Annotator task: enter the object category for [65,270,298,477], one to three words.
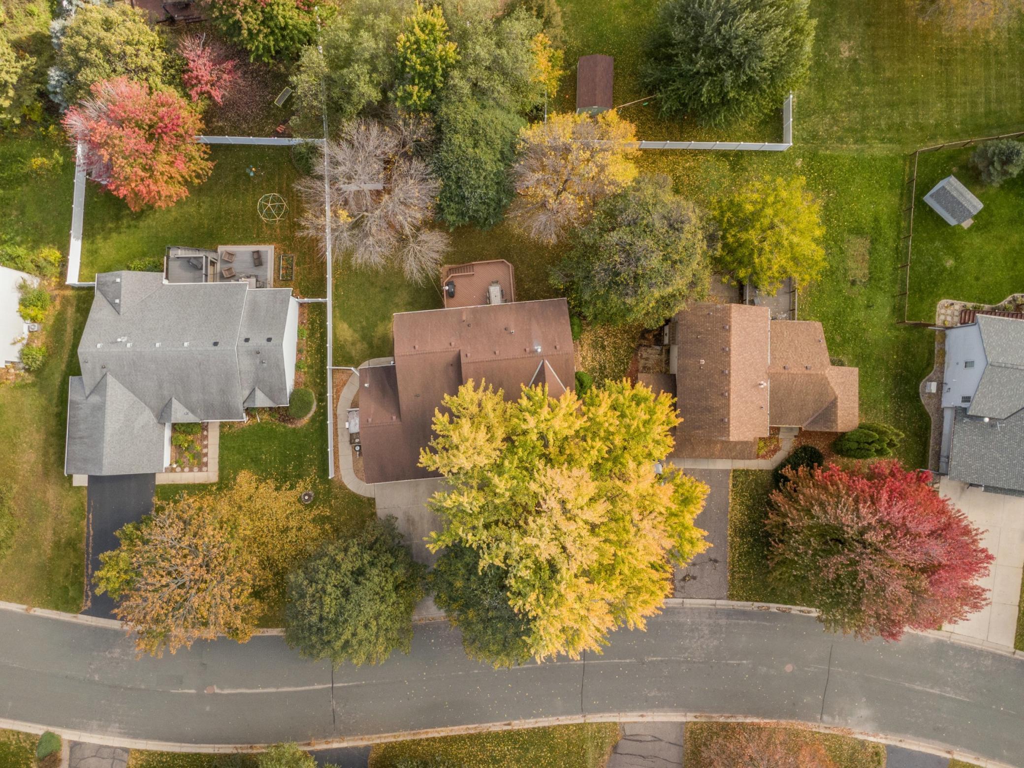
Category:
house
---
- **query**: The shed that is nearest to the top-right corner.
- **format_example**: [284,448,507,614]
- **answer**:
[923,171,987,227]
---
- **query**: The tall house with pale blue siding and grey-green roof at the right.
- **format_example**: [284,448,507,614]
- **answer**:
[936,312,1024,498]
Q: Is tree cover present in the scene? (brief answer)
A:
Yes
